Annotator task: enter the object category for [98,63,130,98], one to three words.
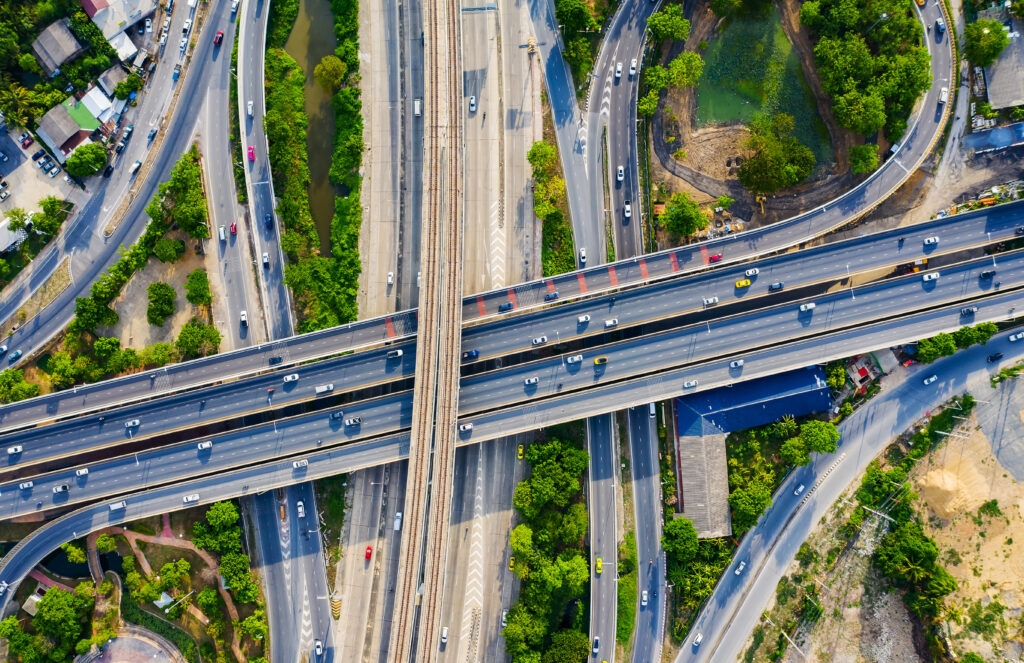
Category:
house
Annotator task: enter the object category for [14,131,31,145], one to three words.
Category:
car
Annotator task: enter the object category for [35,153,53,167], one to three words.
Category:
vehicle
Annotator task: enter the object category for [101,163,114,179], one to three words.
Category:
vehicle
